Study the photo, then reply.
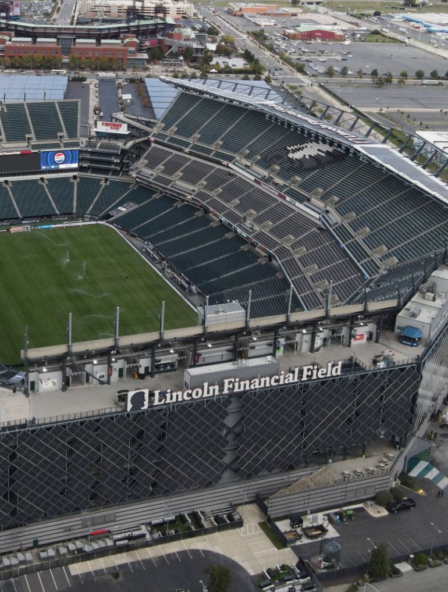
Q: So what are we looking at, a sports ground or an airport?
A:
sports ground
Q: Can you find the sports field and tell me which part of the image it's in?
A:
left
